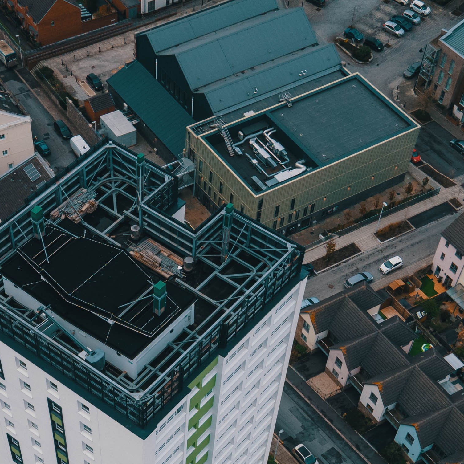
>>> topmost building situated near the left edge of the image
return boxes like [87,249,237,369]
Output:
[0,0,82,51]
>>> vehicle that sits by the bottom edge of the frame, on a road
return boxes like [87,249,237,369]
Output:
[292,441,320,464]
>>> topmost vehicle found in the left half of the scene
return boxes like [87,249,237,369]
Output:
[0,39,18,70]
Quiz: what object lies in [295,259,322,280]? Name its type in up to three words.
car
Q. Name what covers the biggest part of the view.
buildings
